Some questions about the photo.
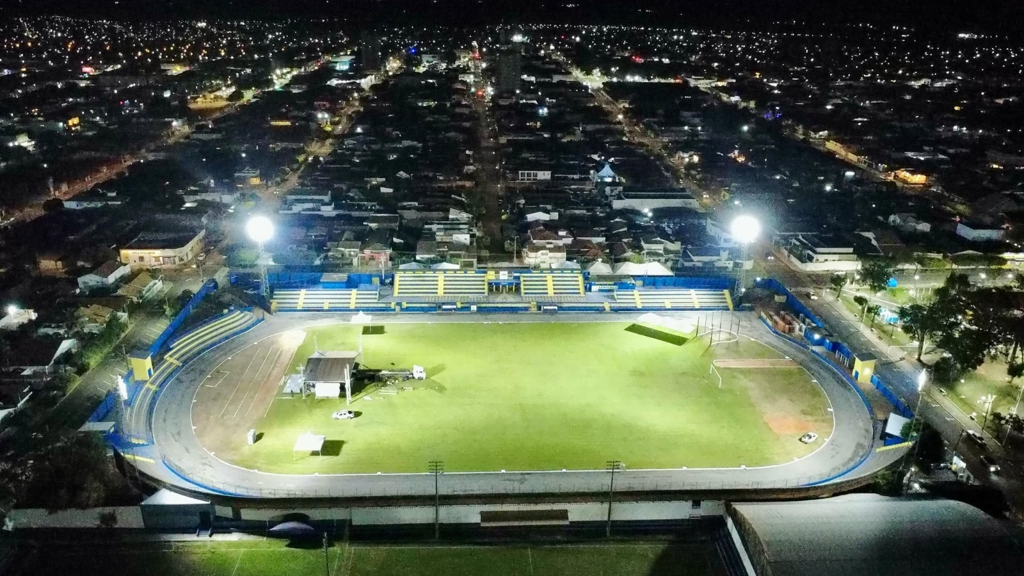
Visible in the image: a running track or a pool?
running track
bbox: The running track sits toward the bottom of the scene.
[153,311,873,499]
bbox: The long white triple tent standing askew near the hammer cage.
[637,311,701,345]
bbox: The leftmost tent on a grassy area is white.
[291,434,326,460]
